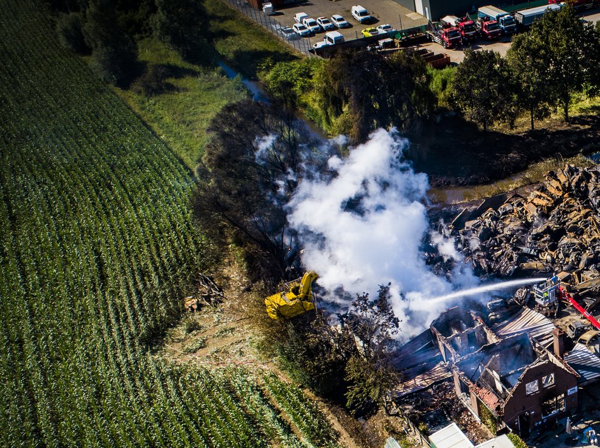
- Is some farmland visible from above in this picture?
Yes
